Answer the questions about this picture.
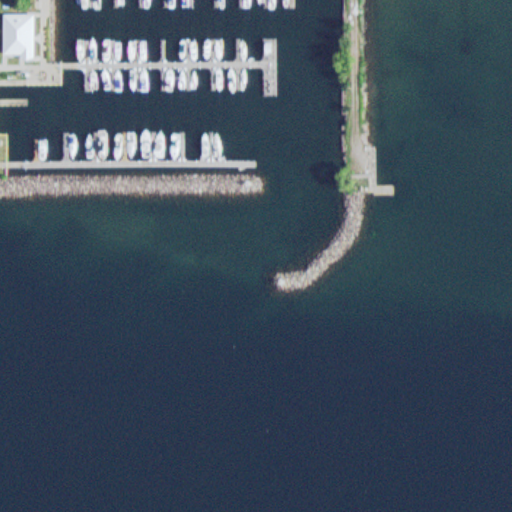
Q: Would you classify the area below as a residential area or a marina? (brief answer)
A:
marina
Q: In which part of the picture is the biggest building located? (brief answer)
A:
top left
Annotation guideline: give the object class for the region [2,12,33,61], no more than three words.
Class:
building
